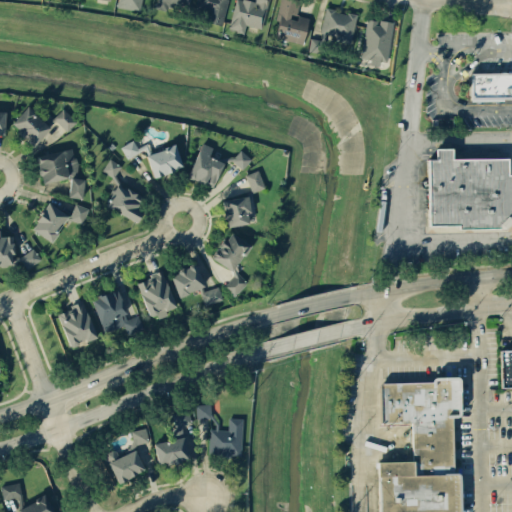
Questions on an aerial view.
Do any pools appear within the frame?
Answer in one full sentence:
Yes, the photo shows a pool.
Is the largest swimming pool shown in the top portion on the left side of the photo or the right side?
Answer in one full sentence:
The largest swimming pool shown in the top portion is on the left side of the image.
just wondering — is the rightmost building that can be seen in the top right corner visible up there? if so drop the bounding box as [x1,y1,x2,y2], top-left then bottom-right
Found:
[471,73,512,102]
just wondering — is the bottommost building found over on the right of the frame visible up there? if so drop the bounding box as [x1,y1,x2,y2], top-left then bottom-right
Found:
[378,462,465,512]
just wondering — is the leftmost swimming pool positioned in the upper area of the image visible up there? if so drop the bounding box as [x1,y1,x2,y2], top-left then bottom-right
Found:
[142,126,170,147]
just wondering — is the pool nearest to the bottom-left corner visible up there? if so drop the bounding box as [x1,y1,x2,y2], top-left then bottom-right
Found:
[112,434,132,450]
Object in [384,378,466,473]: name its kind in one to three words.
building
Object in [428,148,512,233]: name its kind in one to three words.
building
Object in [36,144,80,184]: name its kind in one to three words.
house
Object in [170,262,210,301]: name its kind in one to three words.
house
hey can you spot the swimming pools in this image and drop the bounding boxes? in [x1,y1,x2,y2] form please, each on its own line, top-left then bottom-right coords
[112,434,132,450]
[142,126,170,147]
